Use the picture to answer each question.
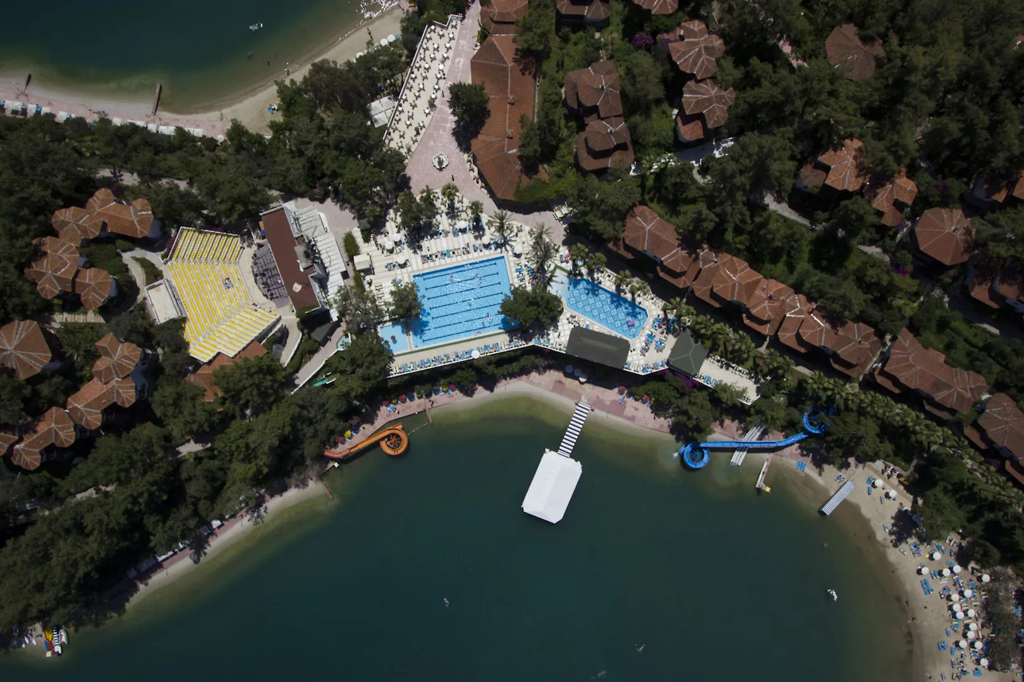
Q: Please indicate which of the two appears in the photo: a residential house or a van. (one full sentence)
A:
This aerial view contains a residential house.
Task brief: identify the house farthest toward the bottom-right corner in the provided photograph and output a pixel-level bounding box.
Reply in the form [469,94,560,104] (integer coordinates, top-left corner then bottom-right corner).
[953,393,1024,481]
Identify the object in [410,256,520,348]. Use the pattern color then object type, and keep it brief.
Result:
blue swimming pool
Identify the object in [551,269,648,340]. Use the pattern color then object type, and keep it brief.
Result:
blue swimming pool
